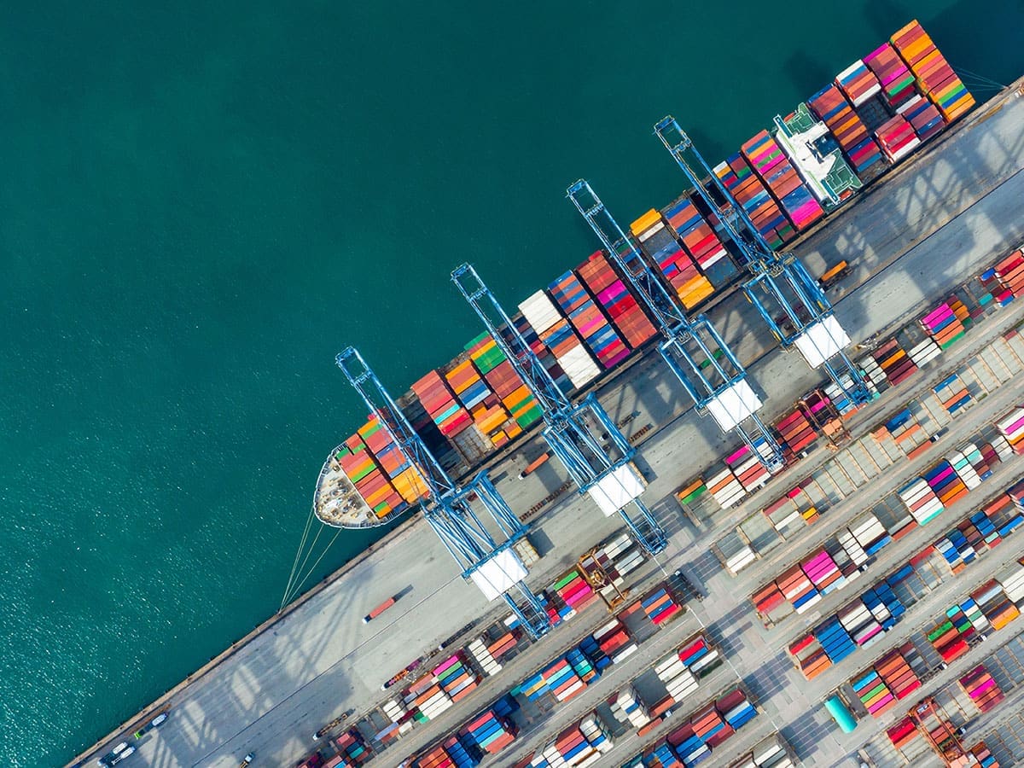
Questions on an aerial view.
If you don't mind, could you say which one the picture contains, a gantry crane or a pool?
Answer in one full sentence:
The image shows a gantry crane.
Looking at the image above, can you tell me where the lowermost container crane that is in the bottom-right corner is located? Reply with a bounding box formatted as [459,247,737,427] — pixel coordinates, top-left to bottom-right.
[908,693,973,768]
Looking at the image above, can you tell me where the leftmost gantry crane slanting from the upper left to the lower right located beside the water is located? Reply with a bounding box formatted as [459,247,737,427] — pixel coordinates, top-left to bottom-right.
[331,343,556,641]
